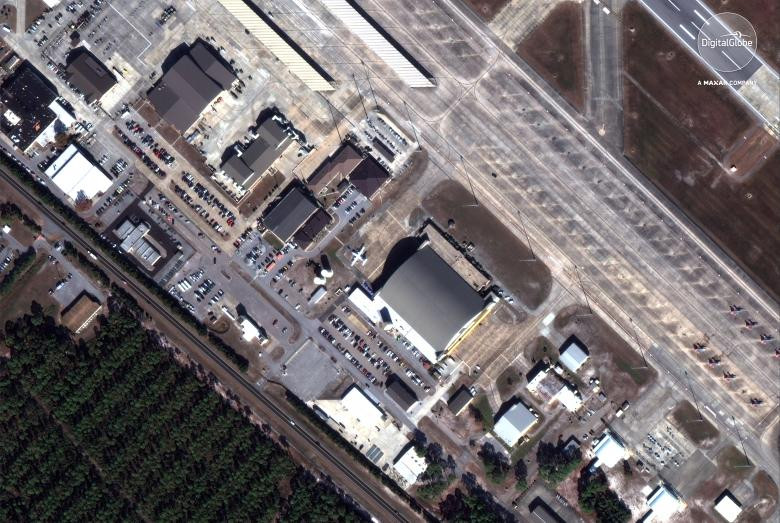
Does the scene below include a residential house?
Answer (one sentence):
Yes, there's a residential house here.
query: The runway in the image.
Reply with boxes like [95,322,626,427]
[635,0,780,139]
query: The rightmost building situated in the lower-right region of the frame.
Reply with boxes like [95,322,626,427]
[715,496,743,522]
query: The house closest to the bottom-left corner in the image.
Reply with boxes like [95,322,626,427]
[62,295,102,333]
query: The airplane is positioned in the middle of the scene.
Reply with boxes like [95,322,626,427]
[350,245,366,266]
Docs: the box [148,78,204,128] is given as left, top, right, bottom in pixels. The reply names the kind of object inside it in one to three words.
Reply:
hangar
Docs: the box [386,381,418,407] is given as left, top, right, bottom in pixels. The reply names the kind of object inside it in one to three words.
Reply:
shed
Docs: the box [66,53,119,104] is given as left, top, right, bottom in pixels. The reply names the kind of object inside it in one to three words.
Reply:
building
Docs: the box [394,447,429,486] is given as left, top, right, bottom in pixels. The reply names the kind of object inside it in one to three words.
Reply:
building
